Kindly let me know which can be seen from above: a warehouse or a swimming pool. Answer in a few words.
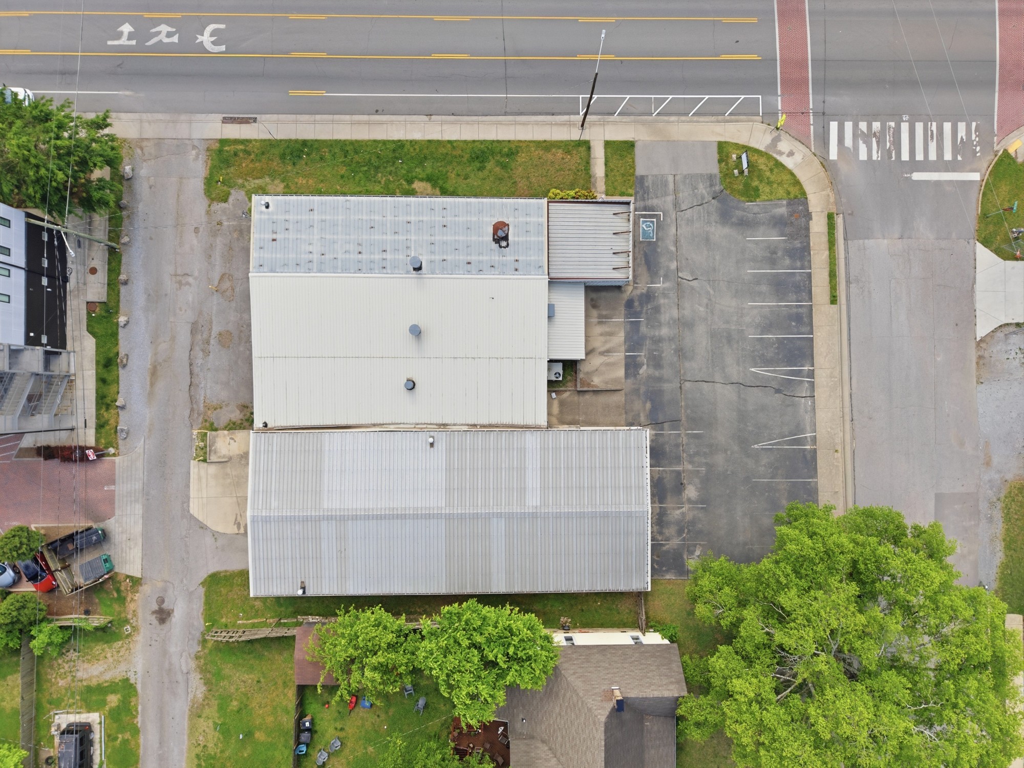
warehouse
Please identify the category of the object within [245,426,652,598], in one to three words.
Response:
warehouse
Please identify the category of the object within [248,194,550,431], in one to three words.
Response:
warehouse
